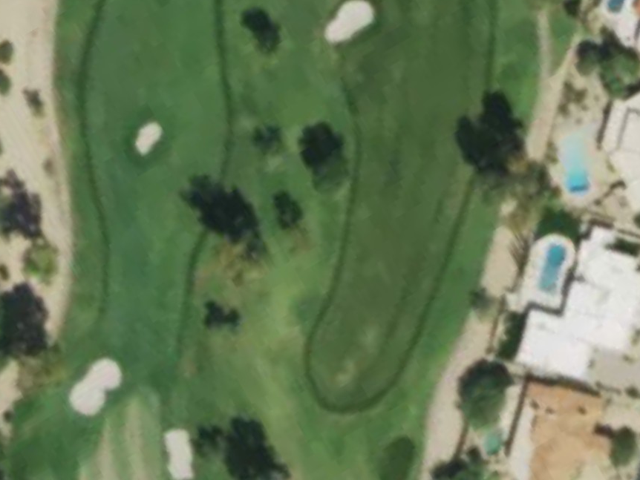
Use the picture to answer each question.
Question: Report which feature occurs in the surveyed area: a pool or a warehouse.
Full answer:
There is a pool in the scene.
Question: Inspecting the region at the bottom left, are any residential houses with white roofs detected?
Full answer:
No, there is no residential house with a white roof at the bottom left.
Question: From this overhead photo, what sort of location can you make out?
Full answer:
It's a golf course.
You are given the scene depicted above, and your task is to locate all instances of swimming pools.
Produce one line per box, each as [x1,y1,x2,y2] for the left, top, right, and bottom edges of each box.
[606,0,625,14]
[483,432,502,454]
[538,241,569,293]
[560,132,590,195]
